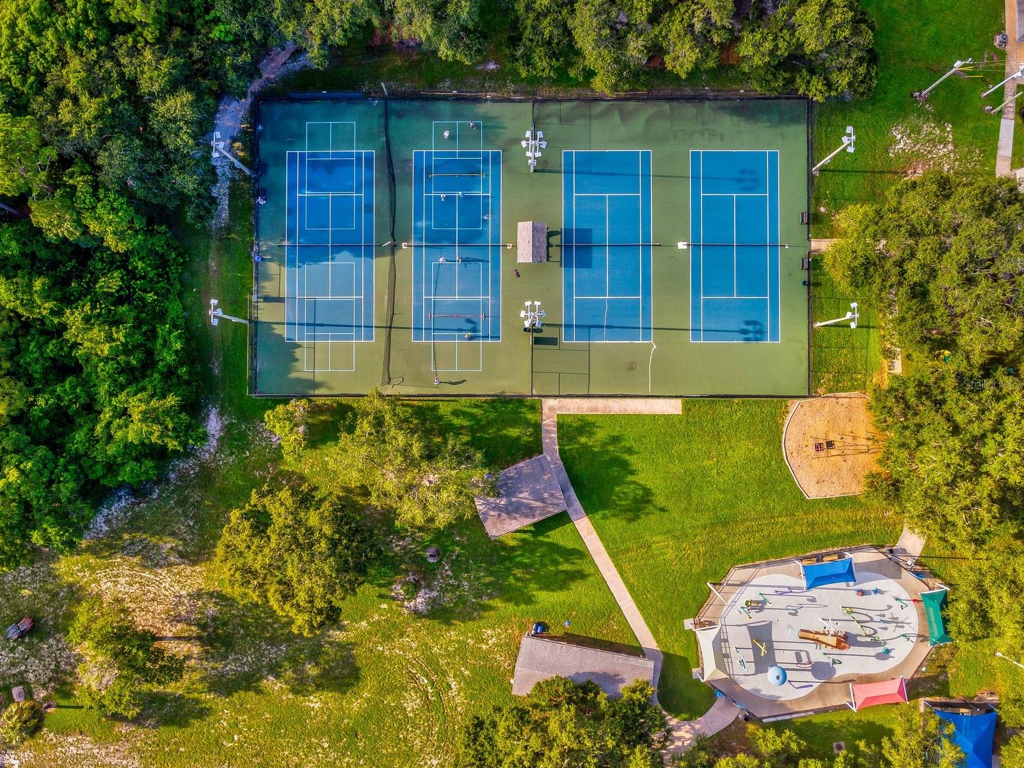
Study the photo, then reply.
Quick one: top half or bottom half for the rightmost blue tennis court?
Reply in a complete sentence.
The top half of the photo is where the rightmost blue tennis court is.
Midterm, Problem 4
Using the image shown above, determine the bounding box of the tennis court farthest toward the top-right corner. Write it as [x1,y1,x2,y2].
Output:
[691,151,779,341]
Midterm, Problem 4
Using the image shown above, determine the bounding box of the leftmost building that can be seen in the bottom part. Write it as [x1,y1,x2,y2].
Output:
[470,454,567,540]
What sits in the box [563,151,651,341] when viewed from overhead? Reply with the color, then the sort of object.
blue tennis court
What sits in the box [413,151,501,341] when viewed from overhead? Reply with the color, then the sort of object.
blue tennis court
